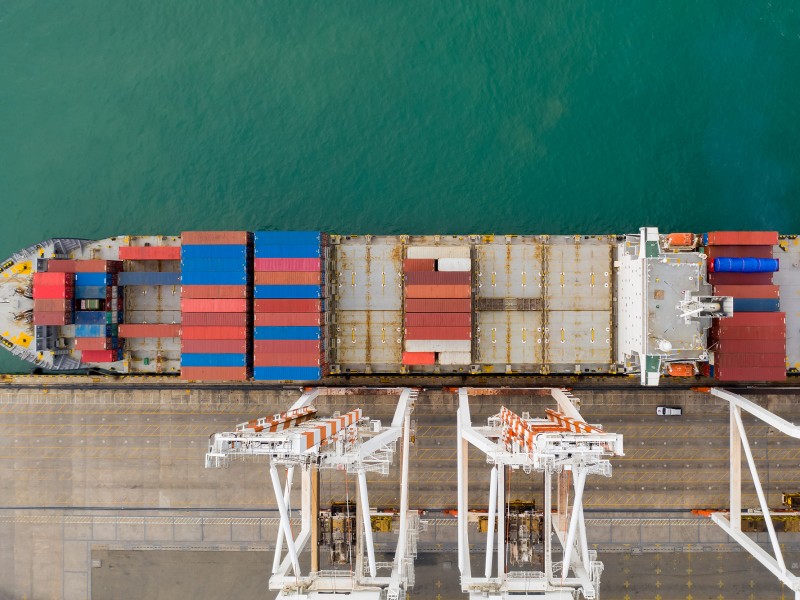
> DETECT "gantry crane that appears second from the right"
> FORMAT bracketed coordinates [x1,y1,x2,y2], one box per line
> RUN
[440,382,628,600]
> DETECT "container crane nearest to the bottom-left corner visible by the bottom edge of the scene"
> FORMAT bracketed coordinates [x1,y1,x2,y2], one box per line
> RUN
[202,381,429,600]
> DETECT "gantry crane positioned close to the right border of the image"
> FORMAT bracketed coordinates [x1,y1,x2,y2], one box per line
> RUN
[695,383,800,600]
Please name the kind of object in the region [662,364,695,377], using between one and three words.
boat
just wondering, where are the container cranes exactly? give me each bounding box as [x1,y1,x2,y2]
[695,383,800,600]
[202,381,429,600]
[440,382,628,600]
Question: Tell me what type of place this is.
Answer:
port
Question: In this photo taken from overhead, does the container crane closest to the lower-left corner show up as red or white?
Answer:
white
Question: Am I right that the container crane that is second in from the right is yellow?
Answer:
No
